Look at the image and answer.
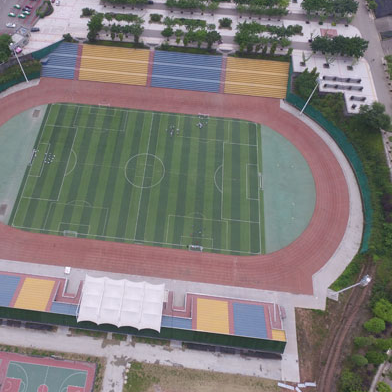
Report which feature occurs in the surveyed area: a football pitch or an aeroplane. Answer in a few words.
football pitch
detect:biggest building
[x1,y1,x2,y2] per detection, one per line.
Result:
[12,28,32,55]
